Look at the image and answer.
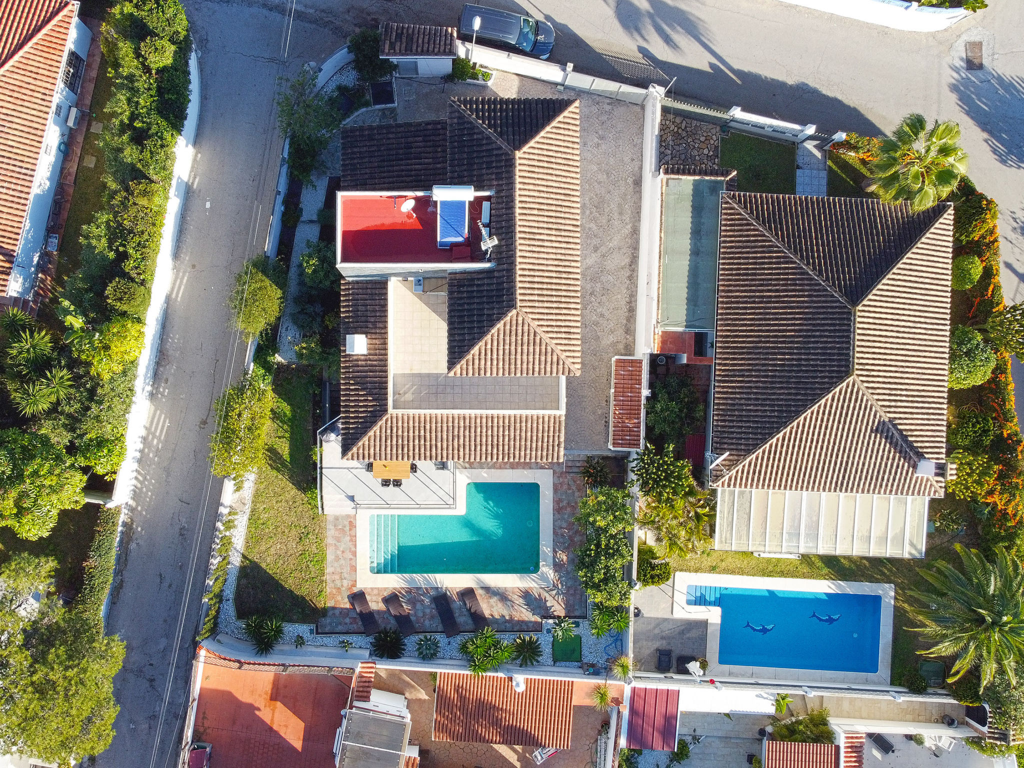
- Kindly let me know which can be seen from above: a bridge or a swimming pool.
swimming pool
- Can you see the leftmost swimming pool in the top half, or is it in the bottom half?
bottom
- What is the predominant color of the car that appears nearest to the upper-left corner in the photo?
blue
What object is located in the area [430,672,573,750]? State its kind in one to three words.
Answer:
building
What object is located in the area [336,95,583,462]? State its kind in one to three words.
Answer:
house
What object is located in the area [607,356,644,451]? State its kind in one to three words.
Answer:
shed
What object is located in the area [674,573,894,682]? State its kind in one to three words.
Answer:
swimming pool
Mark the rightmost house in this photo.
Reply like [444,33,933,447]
[701,190,958,500]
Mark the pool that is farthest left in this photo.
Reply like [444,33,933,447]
[356,469,552,588]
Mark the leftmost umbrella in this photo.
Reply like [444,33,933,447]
[685,662,701,678]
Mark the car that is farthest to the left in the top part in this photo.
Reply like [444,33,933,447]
[458,0,553,62]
